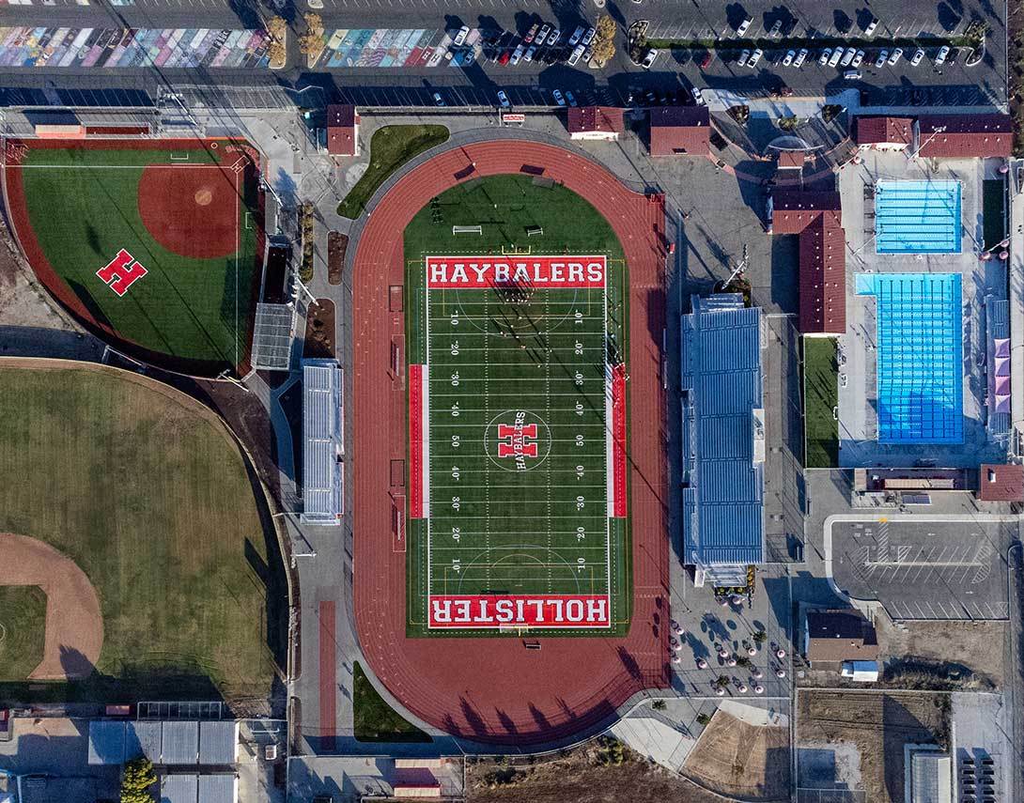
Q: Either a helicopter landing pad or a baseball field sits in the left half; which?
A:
baseball field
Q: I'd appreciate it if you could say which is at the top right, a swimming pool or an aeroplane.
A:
swimming pool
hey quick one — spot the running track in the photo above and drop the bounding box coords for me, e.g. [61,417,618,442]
[352,140,666,745]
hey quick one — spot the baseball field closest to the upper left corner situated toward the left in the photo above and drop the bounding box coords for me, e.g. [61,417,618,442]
[5,138,264,380]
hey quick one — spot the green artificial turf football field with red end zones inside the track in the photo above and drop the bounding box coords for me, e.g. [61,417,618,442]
[403,174,628,638]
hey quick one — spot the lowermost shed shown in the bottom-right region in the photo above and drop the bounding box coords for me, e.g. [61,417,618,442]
[900,741,950,803]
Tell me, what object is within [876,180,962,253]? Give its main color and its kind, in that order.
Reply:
blue swimming pool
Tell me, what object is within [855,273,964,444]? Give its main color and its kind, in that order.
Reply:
blue swimming pool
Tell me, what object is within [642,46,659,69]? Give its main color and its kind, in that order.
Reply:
white vehicle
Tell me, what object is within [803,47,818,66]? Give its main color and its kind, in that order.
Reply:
black car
